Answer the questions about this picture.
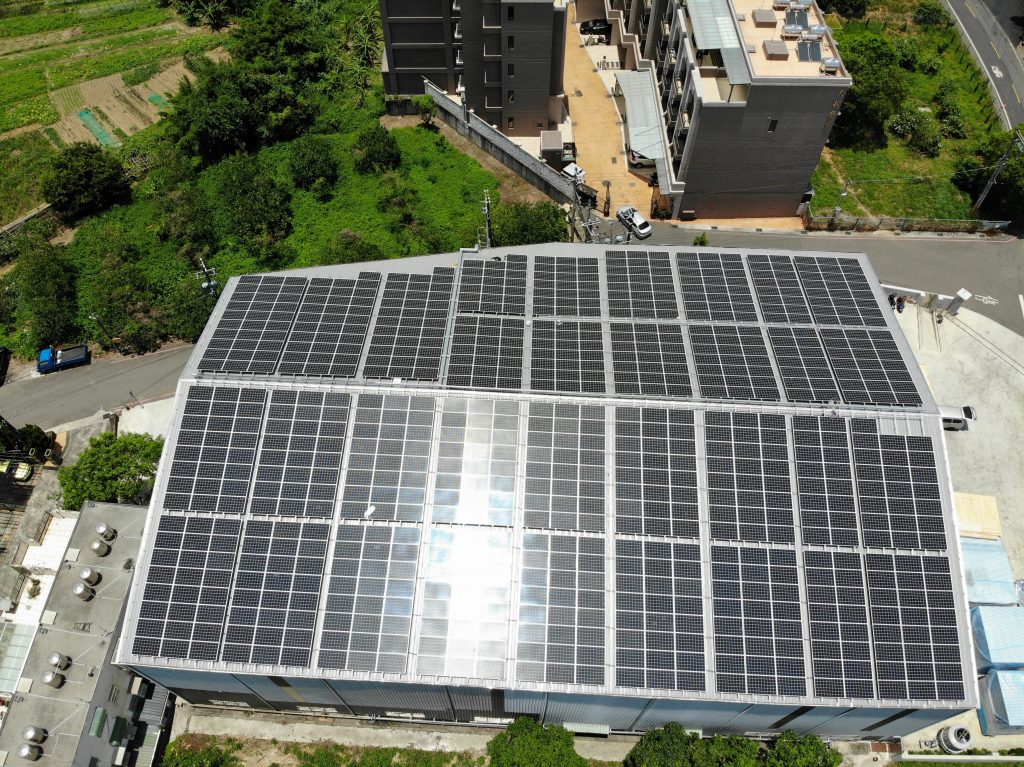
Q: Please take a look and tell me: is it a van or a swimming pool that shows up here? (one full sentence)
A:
The one in the frame is a van.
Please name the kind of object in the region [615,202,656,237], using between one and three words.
car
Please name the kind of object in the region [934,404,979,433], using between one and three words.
van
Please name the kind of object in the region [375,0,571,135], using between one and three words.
building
